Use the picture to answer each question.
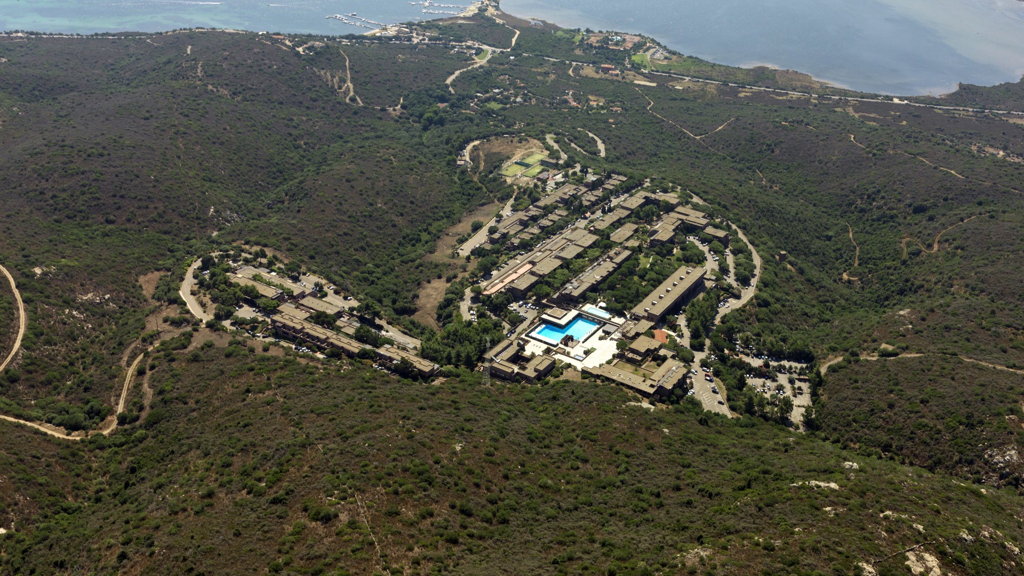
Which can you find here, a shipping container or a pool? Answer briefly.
pool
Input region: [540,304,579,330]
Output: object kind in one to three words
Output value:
building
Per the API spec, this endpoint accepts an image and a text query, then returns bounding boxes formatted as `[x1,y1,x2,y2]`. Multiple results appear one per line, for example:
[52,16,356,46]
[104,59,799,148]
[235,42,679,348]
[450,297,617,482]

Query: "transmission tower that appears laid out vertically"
[479,344,493,382]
